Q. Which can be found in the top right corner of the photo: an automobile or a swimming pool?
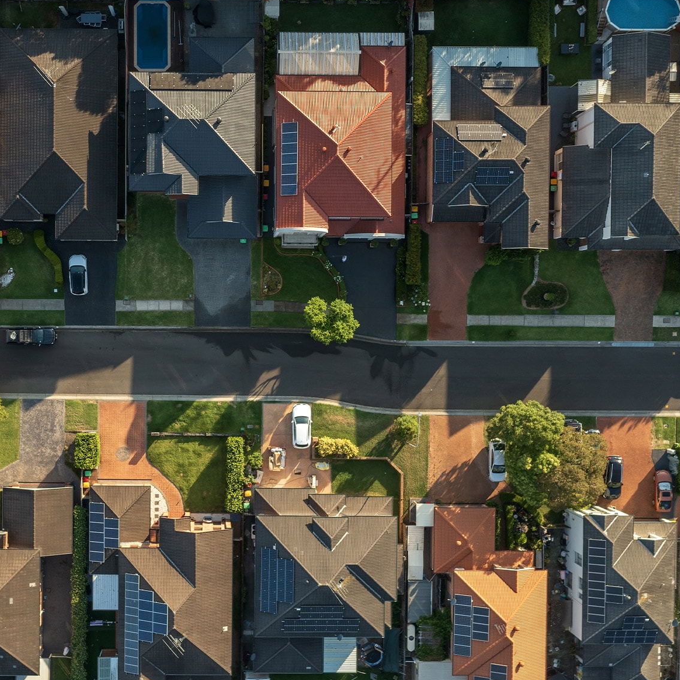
swimming pool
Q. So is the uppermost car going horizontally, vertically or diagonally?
vertically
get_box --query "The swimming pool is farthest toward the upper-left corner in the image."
[134,0,171,72]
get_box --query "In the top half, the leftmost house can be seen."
[0,27,118,242]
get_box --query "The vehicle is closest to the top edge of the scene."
[67,254,88,295]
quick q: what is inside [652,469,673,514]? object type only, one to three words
car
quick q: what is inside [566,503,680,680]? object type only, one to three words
house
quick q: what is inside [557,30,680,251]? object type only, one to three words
house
